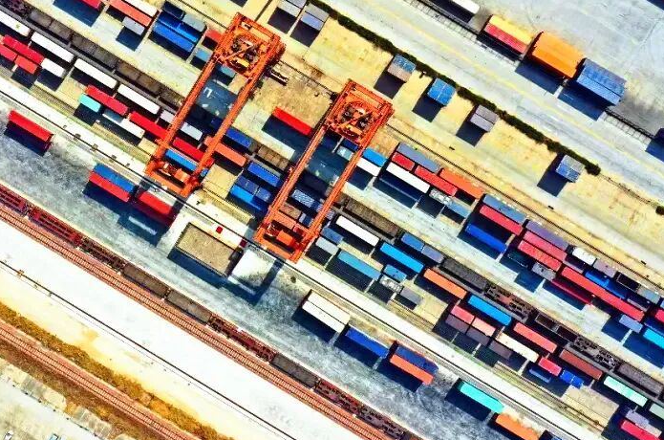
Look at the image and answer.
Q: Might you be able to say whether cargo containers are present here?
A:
Yes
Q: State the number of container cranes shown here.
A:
2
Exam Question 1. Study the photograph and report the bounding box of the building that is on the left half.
[175,222,238,274]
